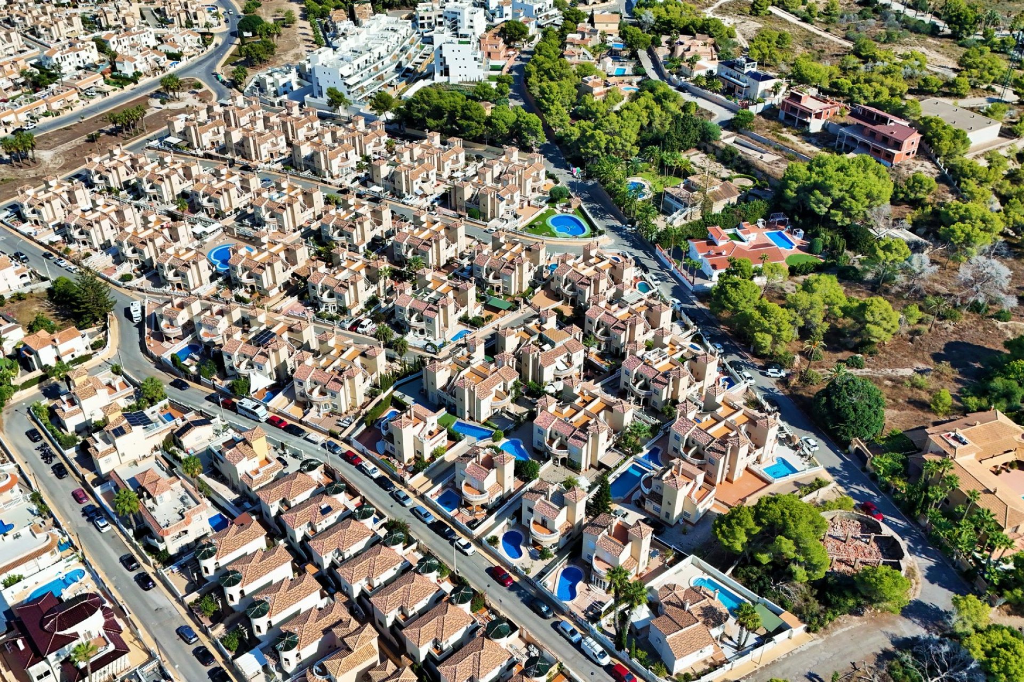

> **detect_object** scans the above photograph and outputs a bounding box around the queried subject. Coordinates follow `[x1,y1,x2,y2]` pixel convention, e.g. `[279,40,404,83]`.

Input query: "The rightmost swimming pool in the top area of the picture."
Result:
[766,230,796,249]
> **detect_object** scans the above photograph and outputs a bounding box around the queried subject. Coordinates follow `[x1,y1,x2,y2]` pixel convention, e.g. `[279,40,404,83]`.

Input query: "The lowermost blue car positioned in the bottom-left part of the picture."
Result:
[174,623,199,645]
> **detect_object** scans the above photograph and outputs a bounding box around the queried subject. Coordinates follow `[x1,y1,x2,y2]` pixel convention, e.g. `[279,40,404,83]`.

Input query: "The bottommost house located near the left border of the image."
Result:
[5,601,137,682]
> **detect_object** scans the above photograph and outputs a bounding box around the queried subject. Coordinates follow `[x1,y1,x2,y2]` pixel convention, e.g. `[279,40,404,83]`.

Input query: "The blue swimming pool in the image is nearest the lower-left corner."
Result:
[18,567,87,608]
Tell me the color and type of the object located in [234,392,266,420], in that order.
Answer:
white camper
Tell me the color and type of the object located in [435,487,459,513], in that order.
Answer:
blue swimming pool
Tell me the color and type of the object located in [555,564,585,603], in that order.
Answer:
blue swimming pool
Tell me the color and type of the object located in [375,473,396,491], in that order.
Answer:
black car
